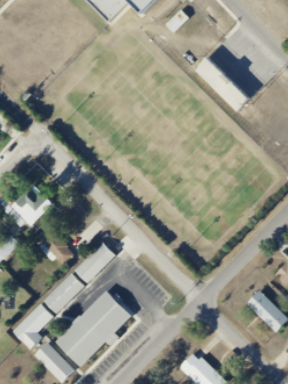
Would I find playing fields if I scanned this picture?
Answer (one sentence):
Yes, you can see a playing field in this photo.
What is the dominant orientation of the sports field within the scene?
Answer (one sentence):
The sports field is oriented diagonally.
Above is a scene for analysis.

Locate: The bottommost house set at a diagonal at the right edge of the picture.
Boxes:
[248,293,286,332]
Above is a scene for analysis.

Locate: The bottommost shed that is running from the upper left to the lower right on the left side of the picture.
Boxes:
[34,342,74,384]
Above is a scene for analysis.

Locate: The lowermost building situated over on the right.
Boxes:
[180,355,224,384]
